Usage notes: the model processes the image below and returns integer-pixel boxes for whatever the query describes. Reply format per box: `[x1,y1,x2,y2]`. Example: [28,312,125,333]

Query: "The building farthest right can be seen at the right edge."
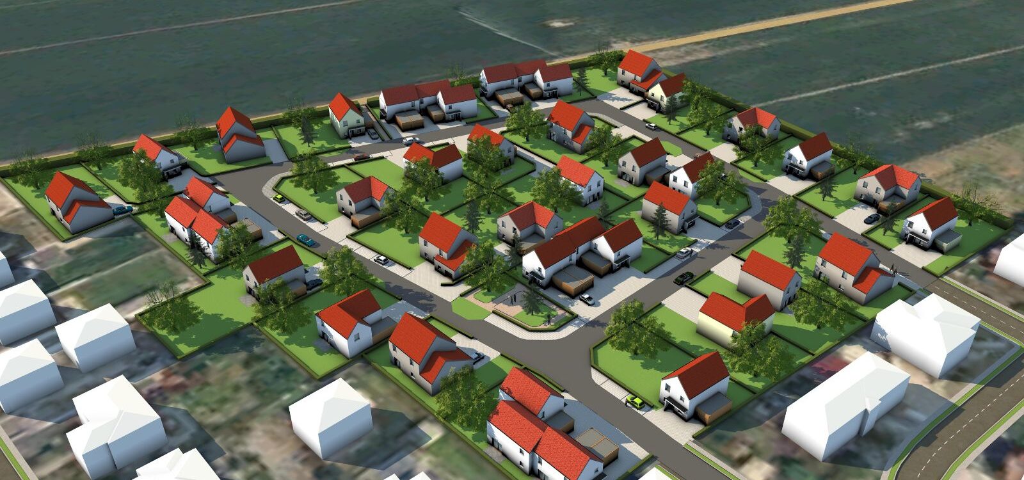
[992,236,1024,288]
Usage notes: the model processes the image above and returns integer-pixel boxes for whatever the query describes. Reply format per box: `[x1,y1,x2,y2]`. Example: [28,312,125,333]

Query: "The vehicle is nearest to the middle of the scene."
[578,293,596,306]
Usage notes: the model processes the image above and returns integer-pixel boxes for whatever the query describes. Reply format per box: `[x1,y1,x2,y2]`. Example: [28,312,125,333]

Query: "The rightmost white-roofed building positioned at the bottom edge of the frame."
[783,352,910,459]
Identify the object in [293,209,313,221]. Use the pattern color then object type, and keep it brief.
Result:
gray vehicle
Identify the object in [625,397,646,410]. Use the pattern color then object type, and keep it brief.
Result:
green vehicle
